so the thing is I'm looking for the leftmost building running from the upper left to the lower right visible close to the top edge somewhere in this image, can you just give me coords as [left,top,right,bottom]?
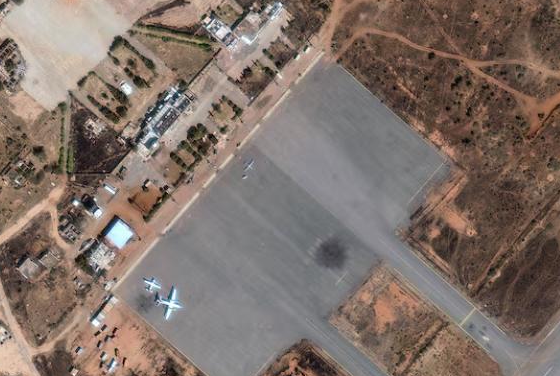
[200,16,238,48]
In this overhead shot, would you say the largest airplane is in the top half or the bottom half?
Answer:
bottom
